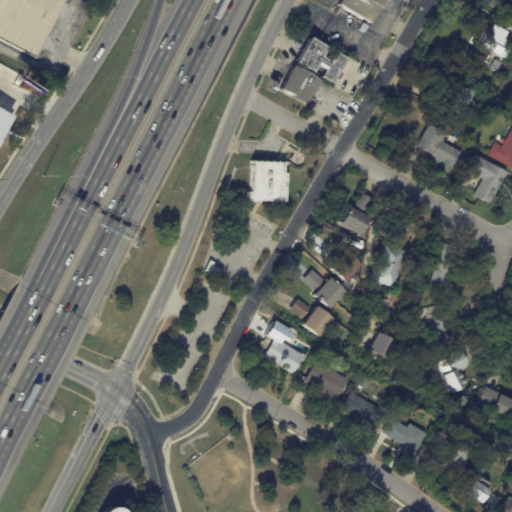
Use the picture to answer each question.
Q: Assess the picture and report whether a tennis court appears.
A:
No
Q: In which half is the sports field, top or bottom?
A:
bottom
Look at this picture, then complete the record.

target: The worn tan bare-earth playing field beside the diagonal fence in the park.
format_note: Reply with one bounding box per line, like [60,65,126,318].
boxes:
[178,437,258,512]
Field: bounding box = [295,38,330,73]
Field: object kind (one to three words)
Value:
building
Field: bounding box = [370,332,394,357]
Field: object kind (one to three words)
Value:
house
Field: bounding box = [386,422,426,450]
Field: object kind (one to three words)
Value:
house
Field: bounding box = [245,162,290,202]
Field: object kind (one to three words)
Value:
building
